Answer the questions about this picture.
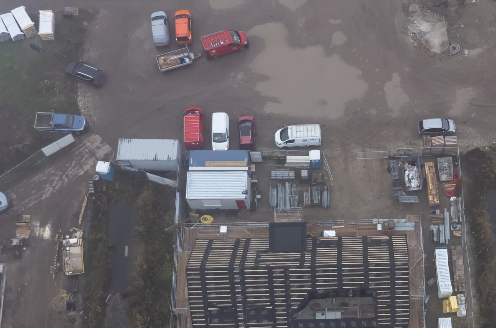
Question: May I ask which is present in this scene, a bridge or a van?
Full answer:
It is a van that can be seen here.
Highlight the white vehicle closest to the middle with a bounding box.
[208,110,230,150]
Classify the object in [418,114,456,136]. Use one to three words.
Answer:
car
